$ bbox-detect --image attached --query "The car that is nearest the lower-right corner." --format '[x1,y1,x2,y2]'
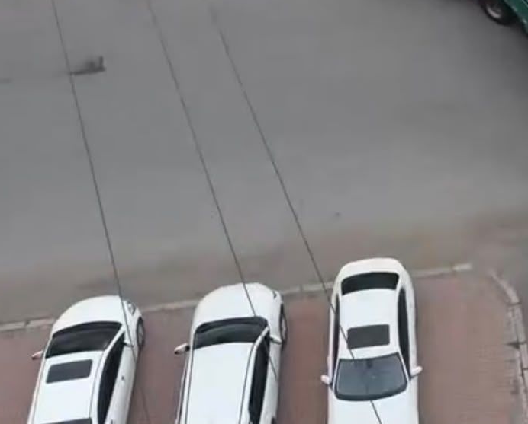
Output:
[317,260,425,424]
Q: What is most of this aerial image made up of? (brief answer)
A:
paved ground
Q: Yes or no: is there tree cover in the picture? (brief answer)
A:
No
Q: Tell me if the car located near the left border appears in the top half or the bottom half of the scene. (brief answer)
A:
bottom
